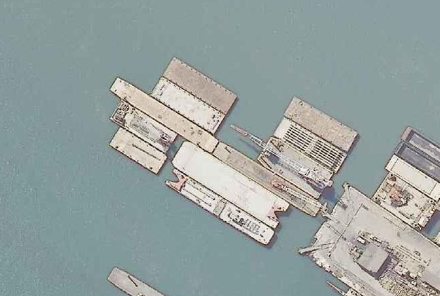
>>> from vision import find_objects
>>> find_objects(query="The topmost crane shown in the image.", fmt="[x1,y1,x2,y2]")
[231,123,333,191]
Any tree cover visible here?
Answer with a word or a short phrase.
No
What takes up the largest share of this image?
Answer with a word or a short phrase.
water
